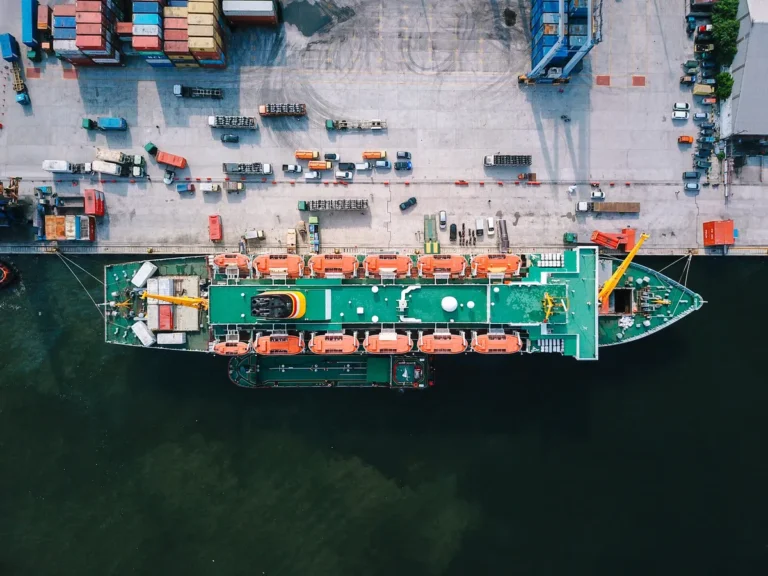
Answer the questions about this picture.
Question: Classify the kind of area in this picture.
port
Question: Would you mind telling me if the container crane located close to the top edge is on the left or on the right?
right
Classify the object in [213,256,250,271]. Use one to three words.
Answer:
boat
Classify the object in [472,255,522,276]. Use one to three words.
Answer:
boat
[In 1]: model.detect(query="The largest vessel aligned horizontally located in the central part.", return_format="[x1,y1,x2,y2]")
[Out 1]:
[97,233,707,359]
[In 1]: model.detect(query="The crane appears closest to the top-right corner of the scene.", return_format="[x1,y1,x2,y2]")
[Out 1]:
[524,0,601,81]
